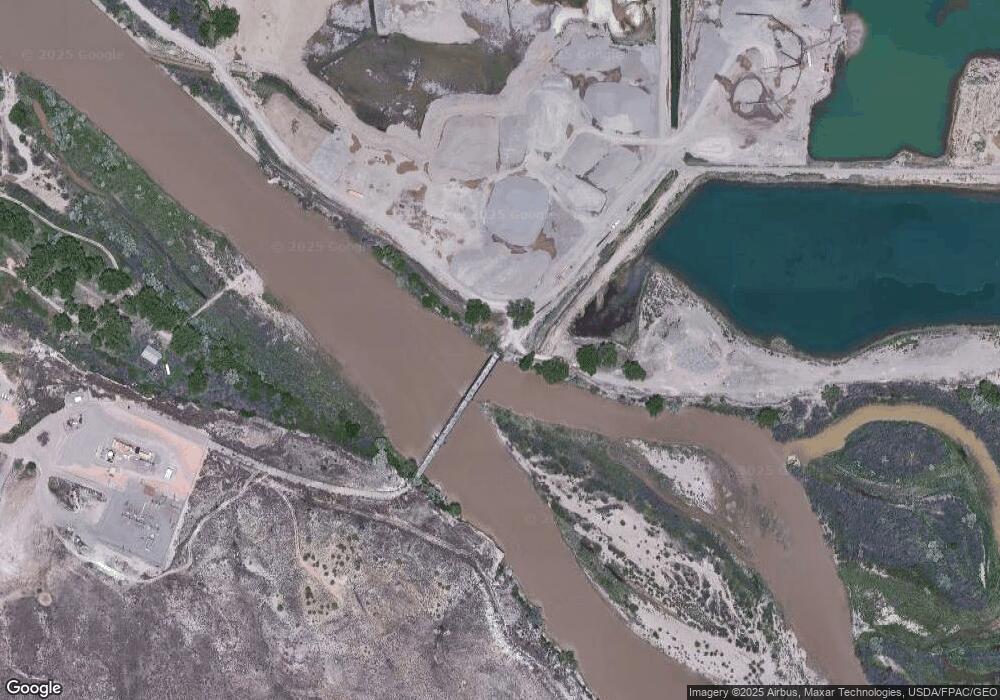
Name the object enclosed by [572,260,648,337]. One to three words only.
pond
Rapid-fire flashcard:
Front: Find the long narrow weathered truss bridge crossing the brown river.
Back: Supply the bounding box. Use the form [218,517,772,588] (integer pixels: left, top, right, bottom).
[412,350,503,484]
